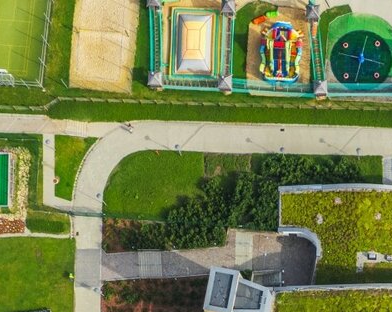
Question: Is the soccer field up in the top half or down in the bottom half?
top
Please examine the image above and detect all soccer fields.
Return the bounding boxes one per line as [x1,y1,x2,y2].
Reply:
[0,0,51,87]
